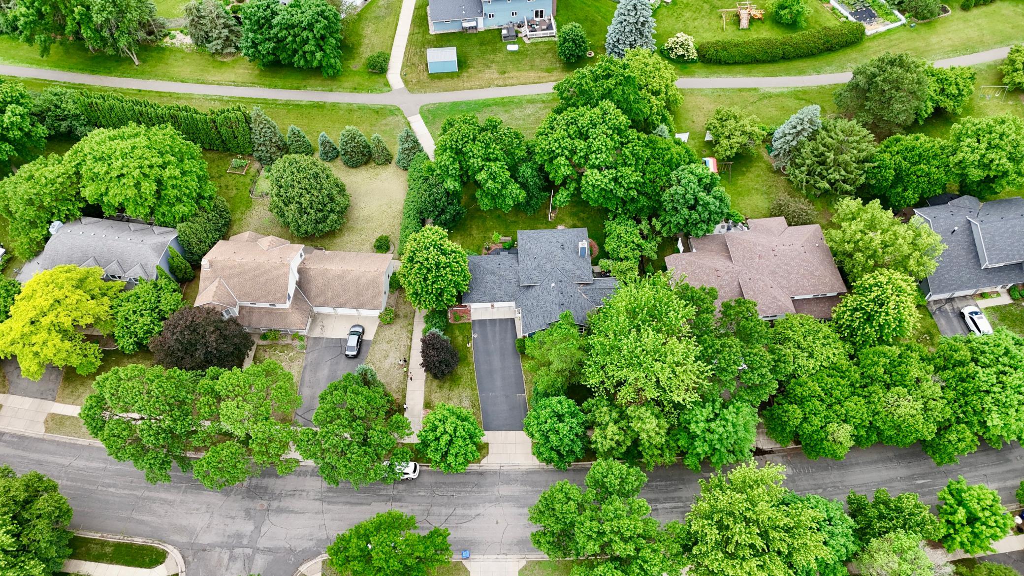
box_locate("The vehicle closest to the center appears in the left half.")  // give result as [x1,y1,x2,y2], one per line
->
[343,325,364,358]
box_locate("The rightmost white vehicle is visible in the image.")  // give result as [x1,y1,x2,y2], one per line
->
[964,307,995,338]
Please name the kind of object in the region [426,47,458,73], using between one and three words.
shed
